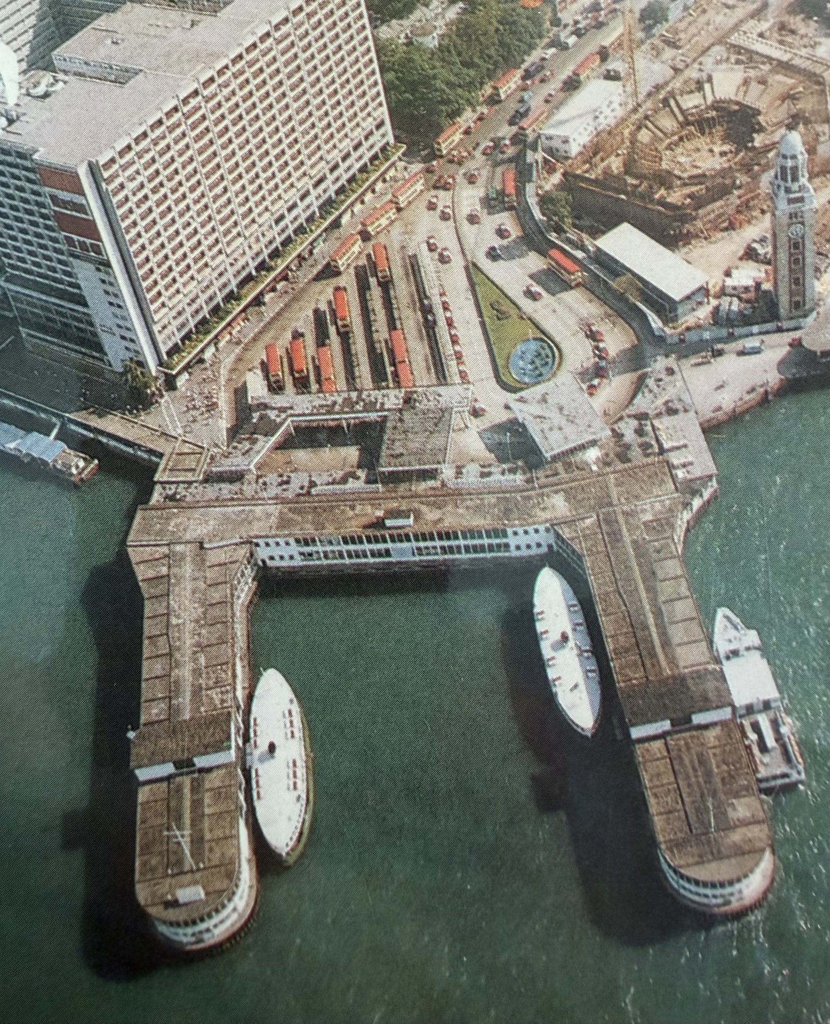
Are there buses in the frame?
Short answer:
Yes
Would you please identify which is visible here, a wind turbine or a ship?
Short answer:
ship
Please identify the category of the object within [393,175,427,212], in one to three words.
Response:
bus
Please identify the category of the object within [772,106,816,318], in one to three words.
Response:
building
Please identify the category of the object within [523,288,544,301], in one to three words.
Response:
vehicle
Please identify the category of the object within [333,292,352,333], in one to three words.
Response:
vehicle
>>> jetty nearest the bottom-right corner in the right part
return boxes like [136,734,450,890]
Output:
[555,498,779,924]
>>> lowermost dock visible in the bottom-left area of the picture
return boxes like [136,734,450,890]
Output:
[126,538,269,961]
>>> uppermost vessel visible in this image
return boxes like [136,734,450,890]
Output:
[0,421,104,484]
